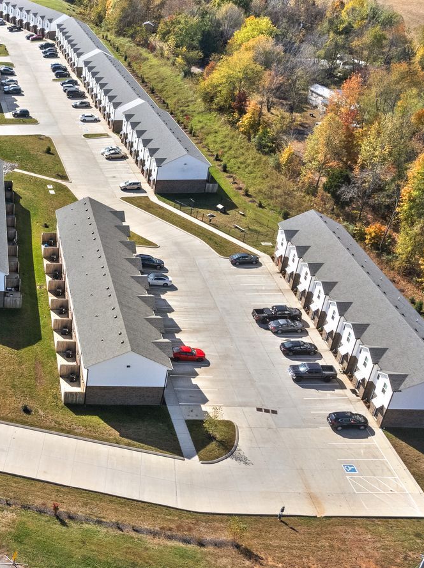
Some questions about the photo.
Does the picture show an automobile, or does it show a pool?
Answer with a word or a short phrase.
automobile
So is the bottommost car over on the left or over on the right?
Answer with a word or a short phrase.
right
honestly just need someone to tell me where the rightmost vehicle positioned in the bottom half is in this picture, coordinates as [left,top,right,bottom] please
[325,411,371,431]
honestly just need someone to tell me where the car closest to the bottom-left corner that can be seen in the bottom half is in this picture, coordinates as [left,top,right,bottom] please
[170,346,208,363]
